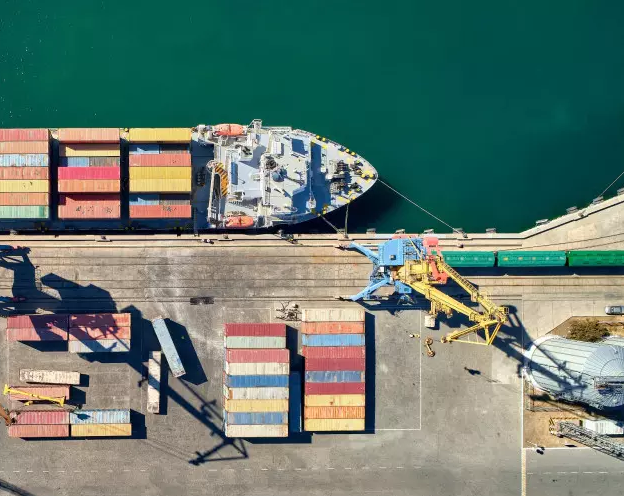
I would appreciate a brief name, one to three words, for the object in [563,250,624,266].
rail car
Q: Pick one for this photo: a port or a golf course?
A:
port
